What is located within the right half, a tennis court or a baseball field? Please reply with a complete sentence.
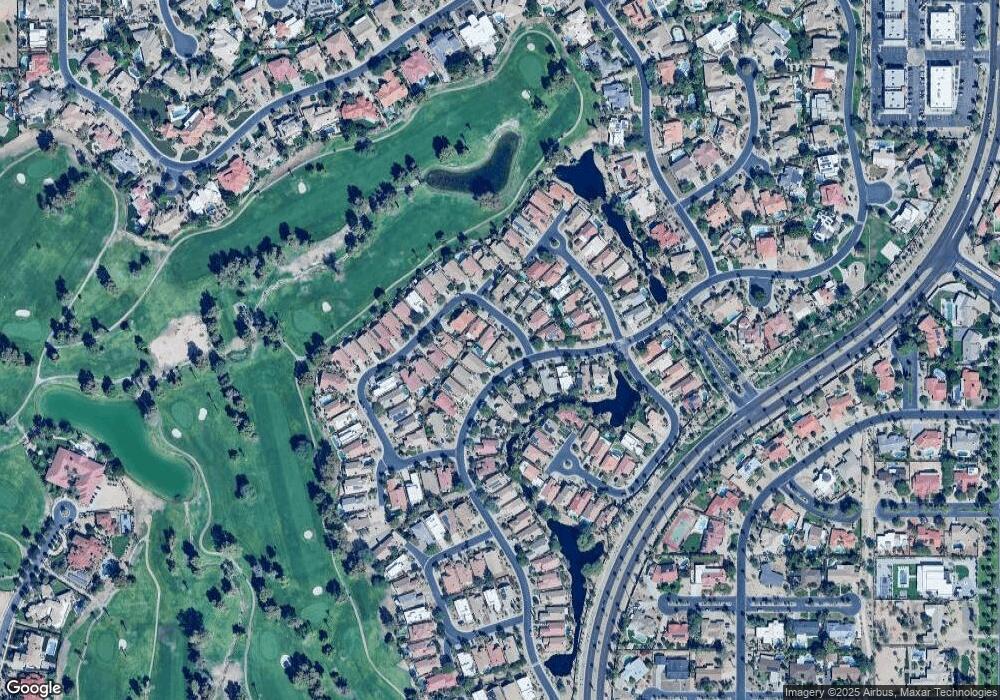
Looking within the right half, you will find a tennis court.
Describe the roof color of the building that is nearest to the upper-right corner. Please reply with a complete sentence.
The roof of the building that is nearest to the upper-right corner is white.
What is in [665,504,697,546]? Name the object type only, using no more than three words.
tennis court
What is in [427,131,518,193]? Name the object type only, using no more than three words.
pond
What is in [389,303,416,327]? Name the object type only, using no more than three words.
house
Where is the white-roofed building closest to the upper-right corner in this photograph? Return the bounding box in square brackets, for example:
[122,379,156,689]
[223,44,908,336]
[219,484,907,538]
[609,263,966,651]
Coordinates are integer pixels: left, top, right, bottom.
[930,11,956,43]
